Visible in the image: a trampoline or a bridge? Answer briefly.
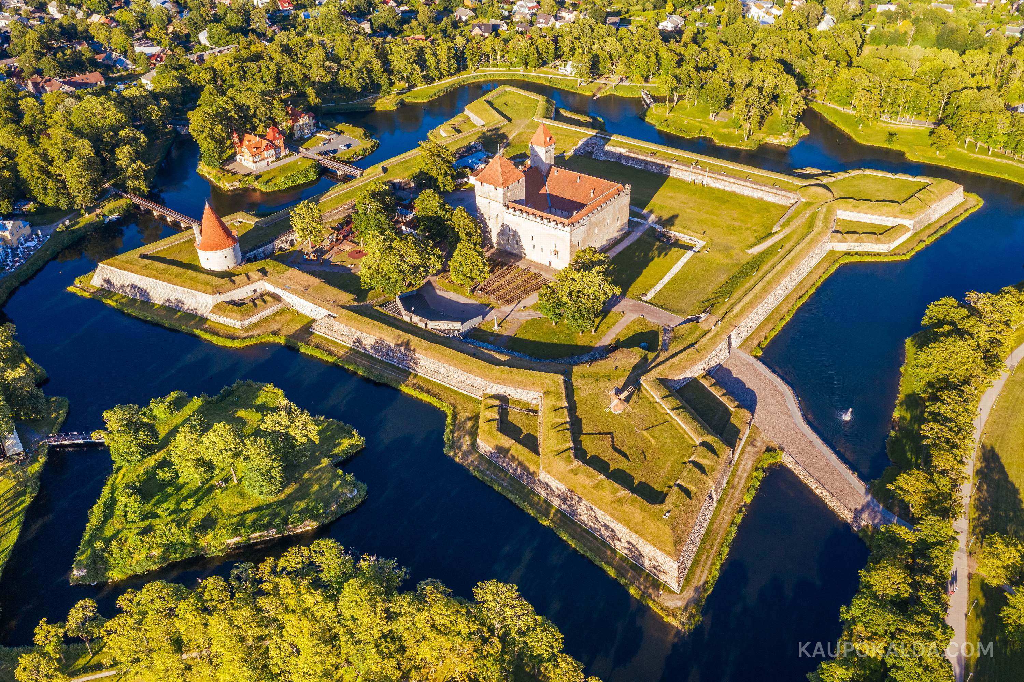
bridge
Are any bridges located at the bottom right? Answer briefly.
No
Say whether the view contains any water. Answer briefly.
Yes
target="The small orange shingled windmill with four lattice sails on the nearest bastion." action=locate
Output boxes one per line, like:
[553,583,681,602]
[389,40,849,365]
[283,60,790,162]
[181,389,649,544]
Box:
[607,382,638,415]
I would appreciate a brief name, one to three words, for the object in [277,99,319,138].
house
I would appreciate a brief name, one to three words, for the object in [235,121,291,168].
house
